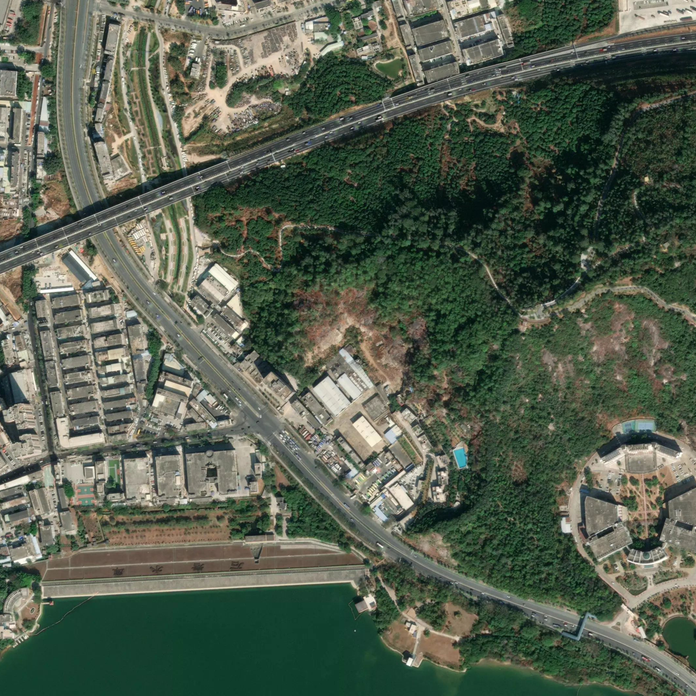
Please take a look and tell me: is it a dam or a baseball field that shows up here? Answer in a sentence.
Looking from above, you can make out a dam.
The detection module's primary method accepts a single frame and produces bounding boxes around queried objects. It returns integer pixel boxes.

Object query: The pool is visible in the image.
[453,447,468,469]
